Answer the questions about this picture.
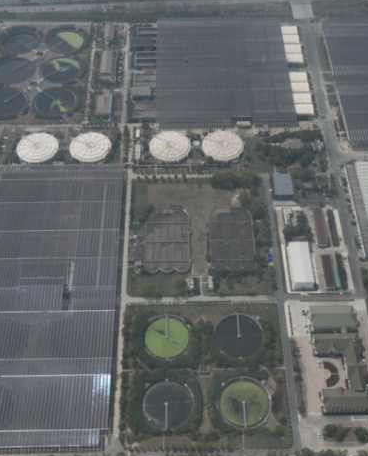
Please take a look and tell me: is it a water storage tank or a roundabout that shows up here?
water storage tank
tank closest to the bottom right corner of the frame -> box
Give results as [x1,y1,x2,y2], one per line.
[217,376,273,430]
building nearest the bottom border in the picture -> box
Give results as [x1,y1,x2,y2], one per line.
[319,383,368,414]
